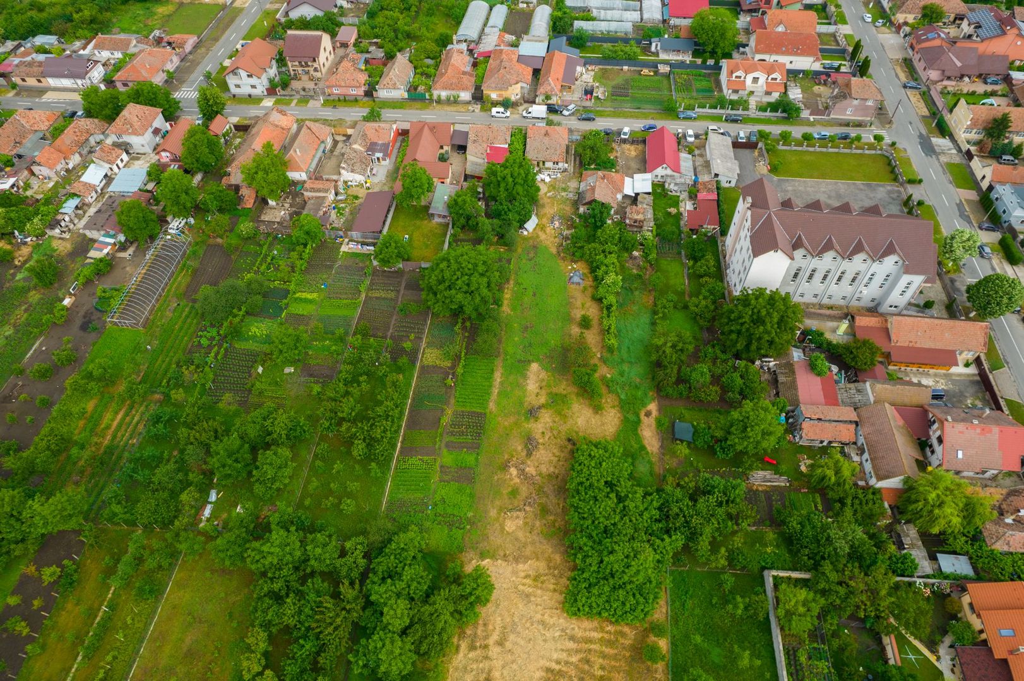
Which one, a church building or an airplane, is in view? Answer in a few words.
church building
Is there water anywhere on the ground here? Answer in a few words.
No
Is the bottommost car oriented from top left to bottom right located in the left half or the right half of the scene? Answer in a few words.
right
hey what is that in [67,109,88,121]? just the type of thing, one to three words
vehicle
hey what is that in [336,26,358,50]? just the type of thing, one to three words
building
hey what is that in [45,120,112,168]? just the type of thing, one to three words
house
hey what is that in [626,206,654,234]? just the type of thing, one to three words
shed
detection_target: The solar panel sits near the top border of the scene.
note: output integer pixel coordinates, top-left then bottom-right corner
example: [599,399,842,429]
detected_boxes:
[967,8,1007,39]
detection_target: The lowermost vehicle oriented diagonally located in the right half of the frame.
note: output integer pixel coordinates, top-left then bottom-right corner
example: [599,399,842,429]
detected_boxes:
[927,378,952,401]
